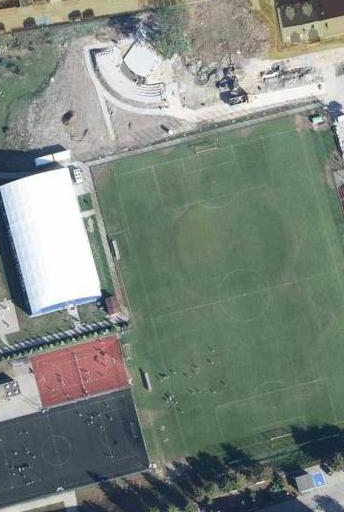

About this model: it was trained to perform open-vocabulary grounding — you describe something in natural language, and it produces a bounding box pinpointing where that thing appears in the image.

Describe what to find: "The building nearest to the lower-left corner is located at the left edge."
[0,381,21,401]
